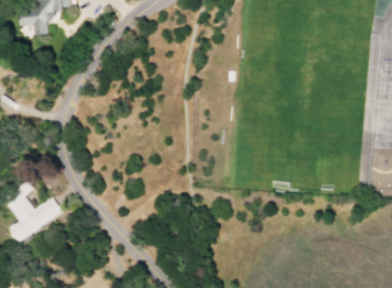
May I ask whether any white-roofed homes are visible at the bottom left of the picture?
Yes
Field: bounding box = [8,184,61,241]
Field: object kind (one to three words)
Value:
house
